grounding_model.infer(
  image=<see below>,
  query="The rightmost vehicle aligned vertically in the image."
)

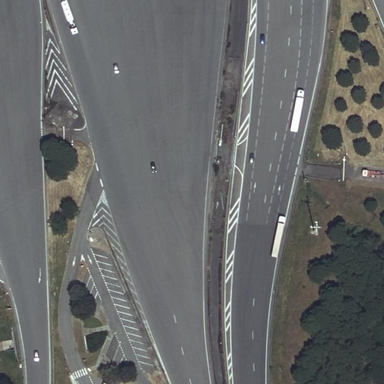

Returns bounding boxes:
[292,88,306,132]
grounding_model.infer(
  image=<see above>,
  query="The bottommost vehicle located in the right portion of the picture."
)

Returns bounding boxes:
[273,214,287,258]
